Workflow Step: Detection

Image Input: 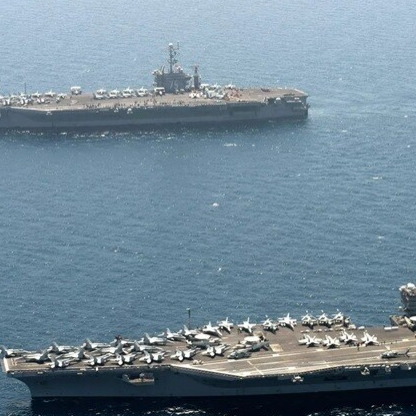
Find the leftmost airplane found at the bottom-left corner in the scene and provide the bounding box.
[0,344,31,358]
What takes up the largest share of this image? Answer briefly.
water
